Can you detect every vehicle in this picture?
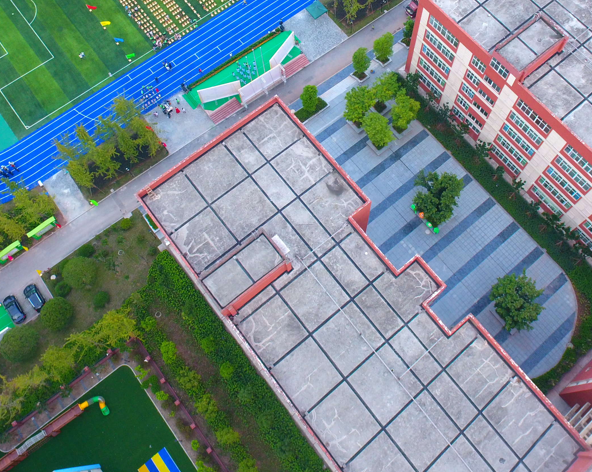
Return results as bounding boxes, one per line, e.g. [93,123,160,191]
[400,0,421,15]
[4,293,28,326]
[24,281,47,315]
